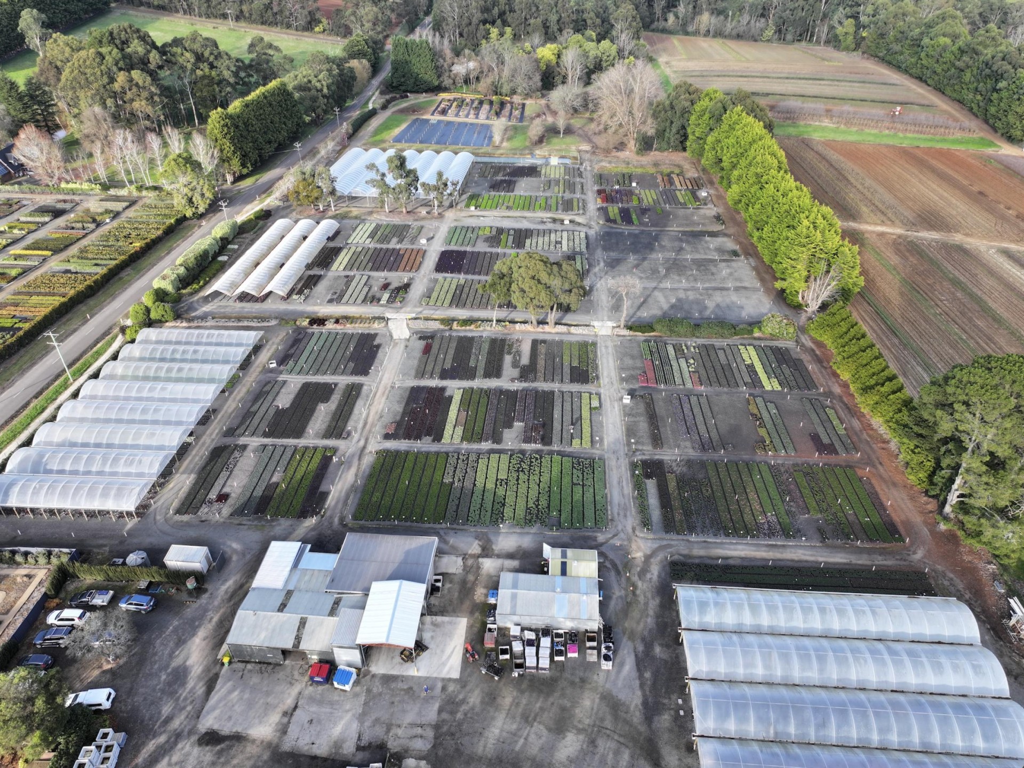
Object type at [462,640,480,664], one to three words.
work vehicle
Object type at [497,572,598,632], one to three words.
shed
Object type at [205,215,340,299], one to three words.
greenhouse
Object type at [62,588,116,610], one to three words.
truck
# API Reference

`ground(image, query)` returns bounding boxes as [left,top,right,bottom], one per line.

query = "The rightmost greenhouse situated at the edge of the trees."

[671,580,1024,768]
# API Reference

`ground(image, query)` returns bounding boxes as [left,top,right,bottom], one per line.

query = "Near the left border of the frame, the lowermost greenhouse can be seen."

[0,323,266,522]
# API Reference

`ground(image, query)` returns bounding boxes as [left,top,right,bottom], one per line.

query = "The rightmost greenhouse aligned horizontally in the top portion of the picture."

[310,146,475,202]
